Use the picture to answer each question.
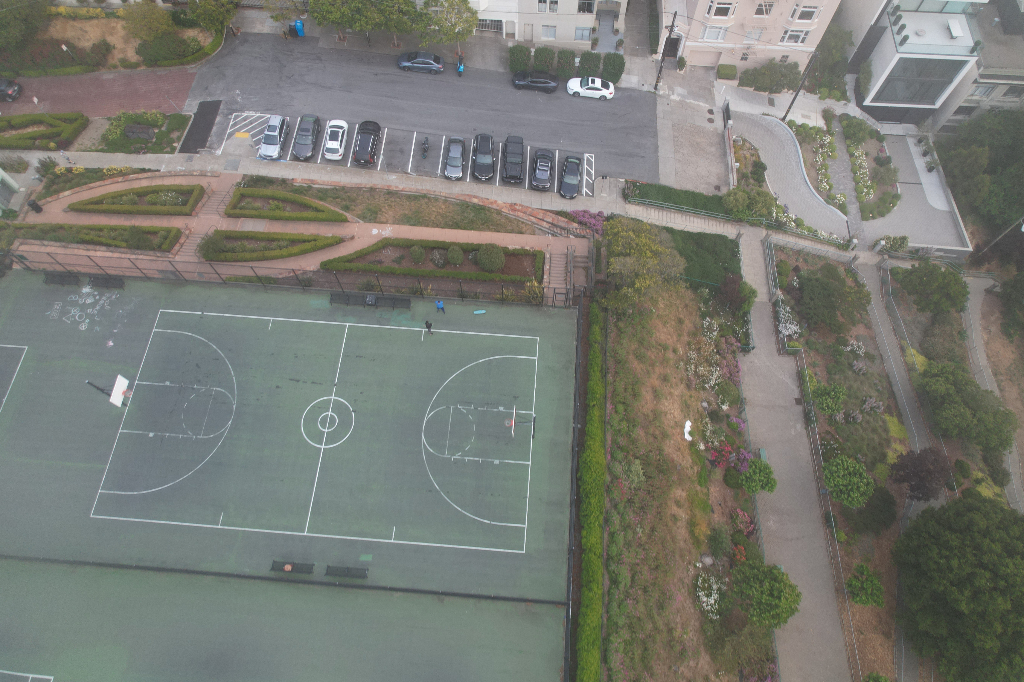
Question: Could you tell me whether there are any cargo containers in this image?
No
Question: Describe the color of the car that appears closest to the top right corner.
white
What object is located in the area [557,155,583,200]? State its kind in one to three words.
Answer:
car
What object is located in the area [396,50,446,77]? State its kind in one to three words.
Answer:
car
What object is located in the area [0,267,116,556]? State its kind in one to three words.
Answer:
tennis court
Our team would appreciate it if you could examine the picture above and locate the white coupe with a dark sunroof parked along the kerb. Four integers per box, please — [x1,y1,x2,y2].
[566,76,616,103]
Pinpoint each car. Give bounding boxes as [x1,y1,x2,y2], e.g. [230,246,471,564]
[566,76,616,103]
[396,50,446,77]
[500,133,526,184]
[470,132,496,182]
[289,116,321,163]
[509,70,560,97]
[256,114,288,161]
[529,149,554,193]
[352,122,383,168]
[557,155,583,200]
[440,137,467,181]
[321,120,351,164]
